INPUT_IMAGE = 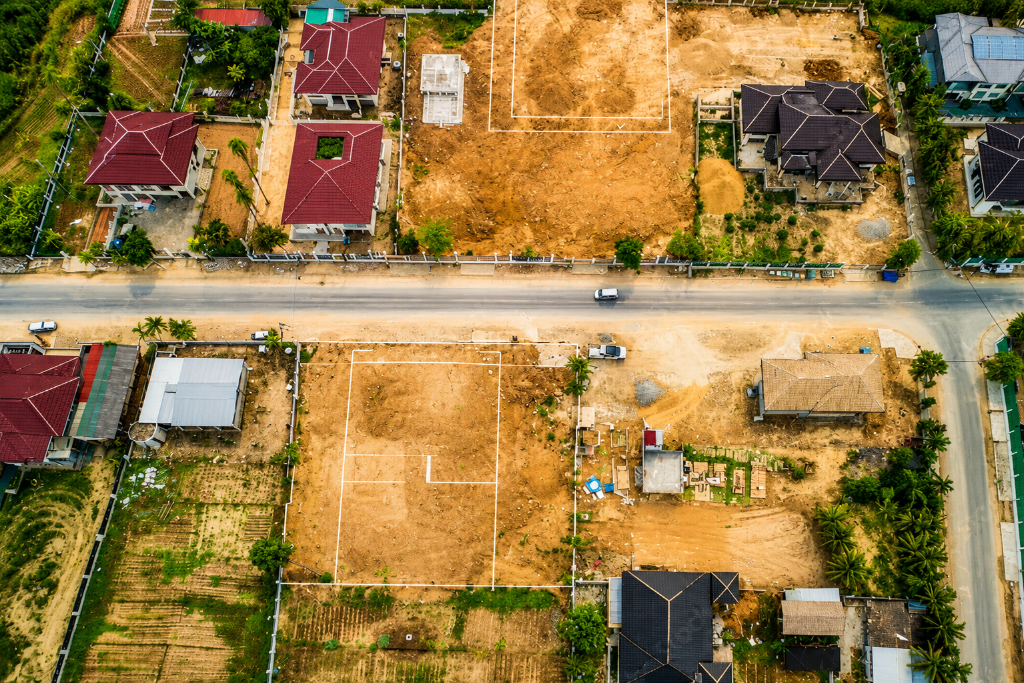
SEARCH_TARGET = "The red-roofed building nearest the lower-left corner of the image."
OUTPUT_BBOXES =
[0,341,86,466]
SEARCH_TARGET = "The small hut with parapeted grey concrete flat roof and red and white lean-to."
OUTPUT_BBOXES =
[635,417,683,496]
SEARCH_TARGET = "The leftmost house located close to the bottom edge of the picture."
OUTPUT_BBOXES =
[607,571,739,683]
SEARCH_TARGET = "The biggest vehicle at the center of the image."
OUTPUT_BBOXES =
[589,346,625,360]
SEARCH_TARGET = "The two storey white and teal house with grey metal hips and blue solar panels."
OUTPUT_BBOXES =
[919,12,1024,102]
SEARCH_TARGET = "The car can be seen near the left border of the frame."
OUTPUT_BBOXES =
[30,321,58,334]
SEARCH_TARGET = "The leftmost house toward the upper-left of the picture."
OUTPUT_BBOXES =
[83,111,218,209]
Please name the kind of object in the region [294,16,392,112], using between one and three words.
house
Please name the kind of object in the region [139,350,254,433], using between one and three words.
house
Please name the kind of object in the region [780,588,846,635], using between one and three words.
barn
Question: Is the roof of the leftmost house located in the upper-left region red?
Yes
